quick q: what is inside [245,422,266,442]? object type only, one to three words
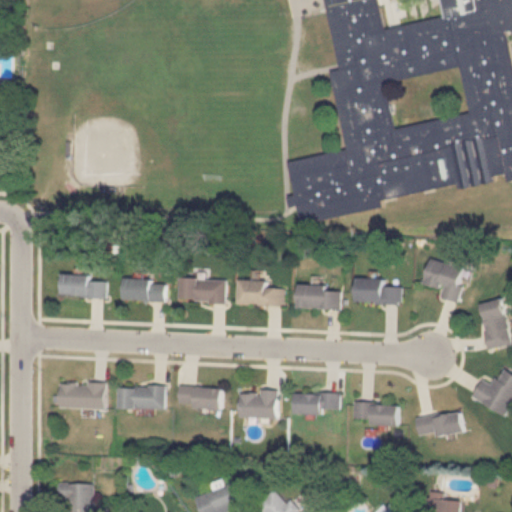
swimming pool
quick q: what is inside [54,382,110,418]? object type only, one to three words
house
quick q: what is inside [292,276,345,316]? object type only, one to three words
house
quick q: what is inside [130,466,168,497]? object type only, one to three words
swimming pool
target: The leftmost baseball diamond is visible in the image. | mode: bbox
[75,40,180,187]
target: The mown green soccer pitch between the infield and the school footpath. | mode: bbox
[196,88,254,184]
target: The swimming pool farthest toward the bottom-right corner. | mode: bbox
[436,474,480,502]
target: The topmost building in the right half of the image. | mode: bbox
[287,0,512,219]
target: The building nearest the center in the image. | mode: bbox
[234,271,288,307]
